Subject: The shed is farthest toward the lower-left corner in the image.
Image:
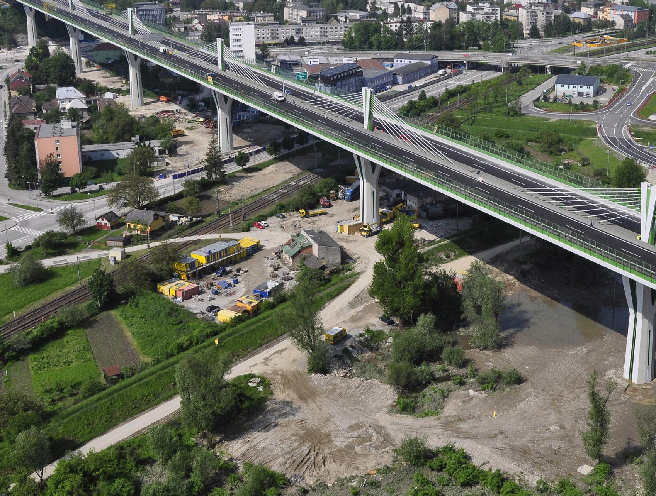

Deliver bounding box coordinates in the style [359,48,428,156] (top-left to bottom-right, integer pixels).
[99,361,122,381]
